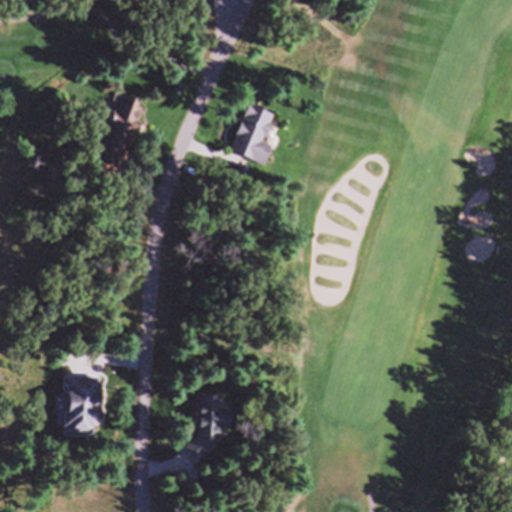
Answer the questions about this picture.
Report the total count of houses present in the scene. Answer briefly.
5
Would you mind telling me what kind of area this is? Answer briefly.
golf course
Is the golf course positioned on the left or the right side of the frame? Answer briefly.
right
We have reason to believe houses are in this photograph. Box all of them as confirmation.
[230,100,276,166]
[108,90,146,141]
[197,396,234,440]
[56,376,100,436]
[13,146,54,192]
